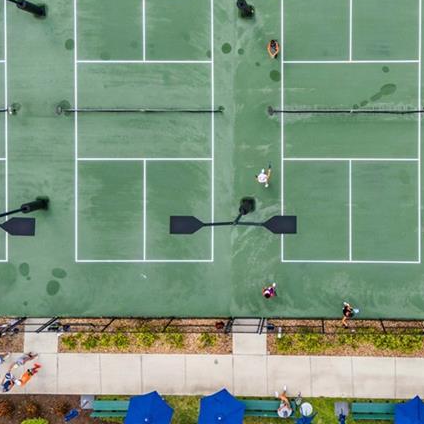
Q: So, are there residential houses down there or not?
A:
No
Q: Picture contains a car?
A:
No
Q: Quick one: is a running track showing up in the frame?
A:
No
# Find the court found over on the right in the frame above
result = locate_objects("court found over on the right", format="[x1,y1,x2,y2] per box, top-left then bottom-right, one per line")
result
[282,0,422,263]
